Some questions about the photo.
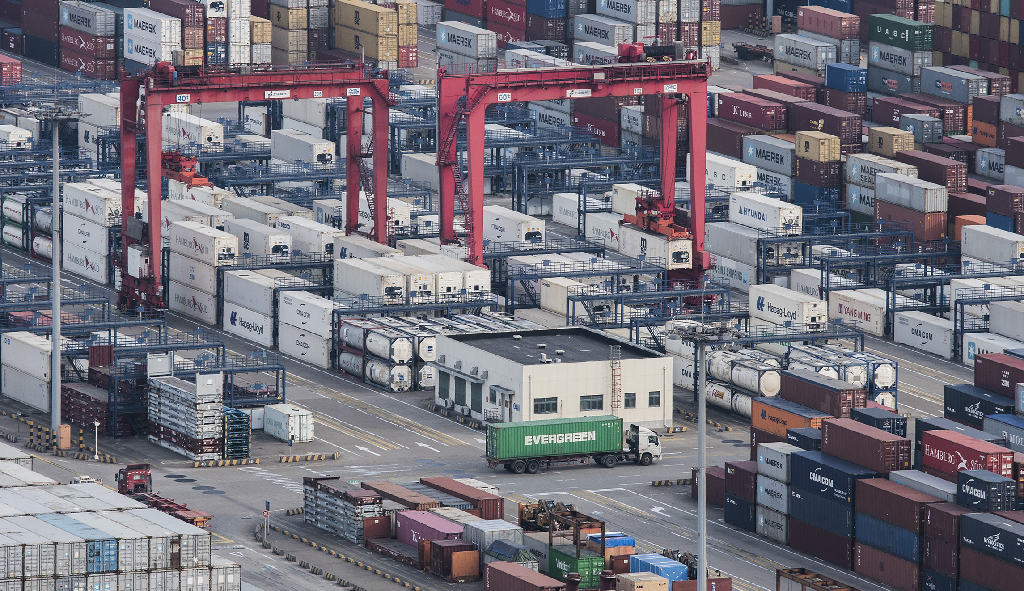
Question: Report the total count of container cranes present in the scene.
2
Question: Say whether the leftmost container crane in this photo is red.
Yes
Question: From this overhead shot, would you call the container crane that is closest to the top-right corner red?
Yes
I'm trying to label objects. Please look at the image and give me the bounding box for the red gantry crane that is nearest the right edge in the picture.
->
[435,39,728,315]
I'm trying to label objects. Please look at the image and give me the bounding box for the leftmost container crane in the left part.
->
[105,42,401,329]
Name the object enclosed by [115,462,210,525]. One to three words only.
truck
